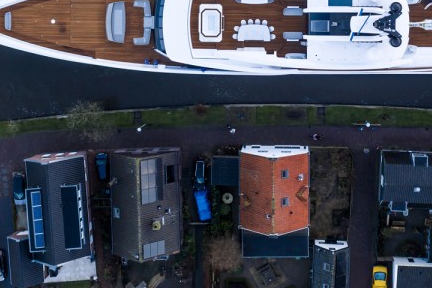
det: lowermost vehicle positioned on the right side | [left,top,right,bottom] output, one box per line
[373,262,390,288]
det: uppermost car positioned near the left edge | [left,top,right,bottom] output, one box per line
[11,173,27,206]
